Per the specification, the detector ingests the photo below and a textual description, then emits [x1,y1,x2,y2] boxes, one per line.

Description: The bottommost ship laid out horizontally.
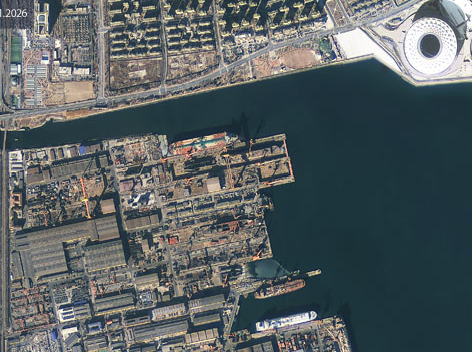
[255,310,318,331]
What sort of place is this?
port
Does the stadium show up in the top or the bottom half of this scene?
top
